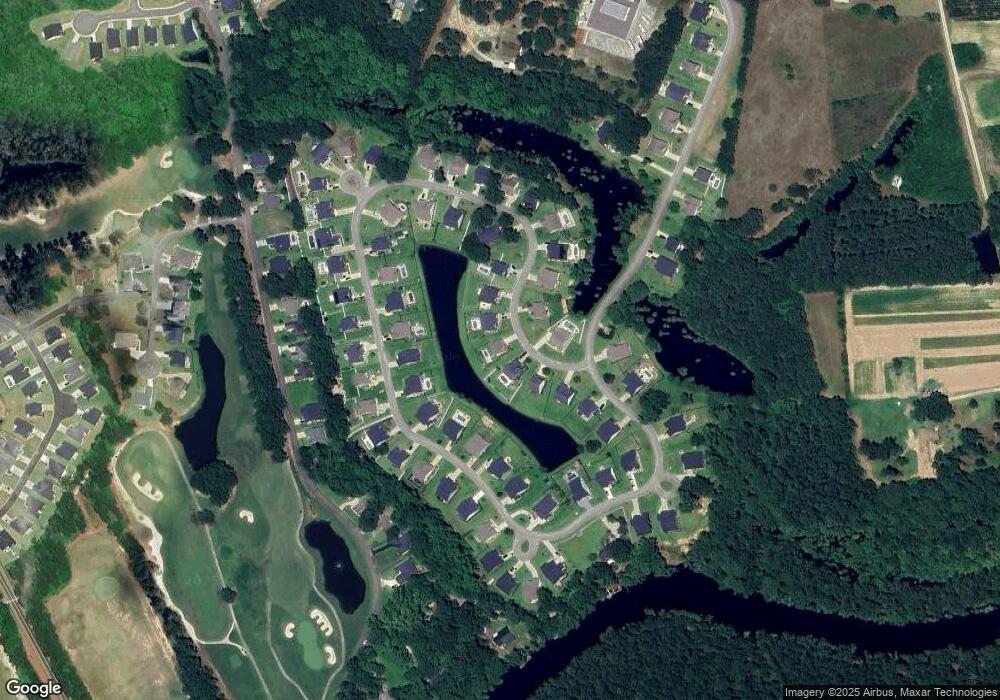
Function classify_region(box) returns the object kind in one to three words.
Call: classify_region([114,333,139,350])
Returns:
house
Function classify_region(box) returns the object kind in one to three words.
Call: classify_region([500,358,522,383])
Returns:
house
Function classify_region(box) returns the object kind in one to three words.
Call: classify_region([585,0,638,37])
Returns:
building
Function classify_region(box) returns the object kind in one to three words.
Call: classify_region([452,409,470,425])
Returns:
swimming pool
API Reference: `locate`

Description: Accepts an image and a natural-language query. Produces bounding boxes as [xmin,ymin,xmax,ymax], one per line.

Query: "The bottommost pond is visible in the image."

[304,518,365,614]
